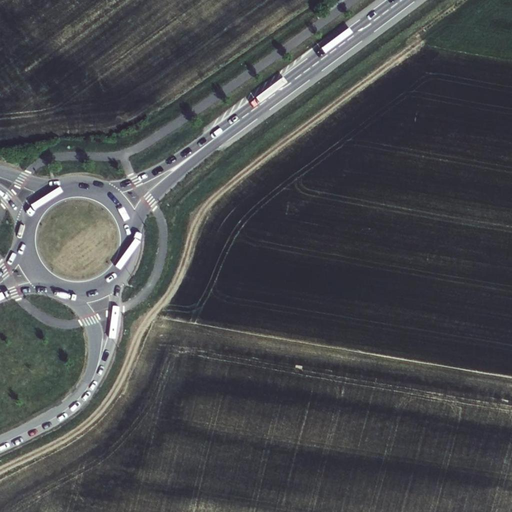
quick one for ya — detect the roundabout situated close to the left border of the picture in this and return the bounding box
[14,176,142,304]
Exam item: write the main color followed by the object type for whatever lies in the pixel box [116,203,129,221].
white vehicle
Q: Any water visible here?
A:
No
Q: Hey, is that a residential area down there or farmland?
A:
farmland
